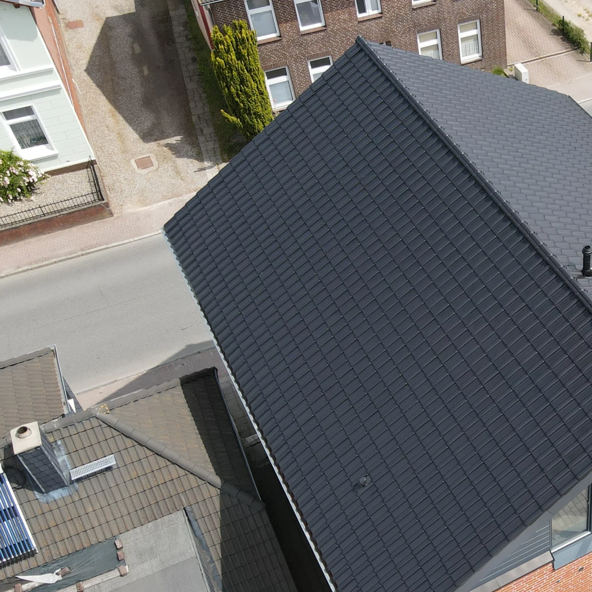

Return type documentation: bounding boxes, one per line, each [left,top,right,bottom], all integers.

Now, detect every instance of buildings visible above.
[0,0,95,186]
[158,32,592,592]
[0,340,300,592]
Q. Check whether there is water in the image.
No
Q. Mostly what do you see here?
buildings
